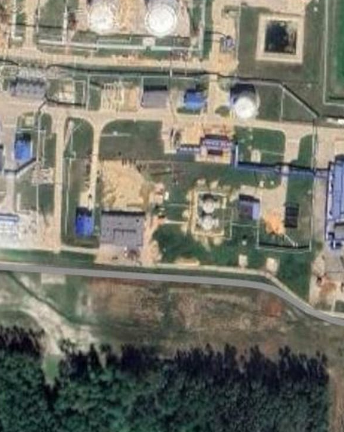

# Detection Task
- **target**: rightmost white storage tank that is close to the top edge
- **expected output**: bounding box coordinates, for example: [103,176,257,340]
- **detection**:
[145,0,180,37]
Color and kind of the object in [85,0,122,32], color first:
white storage tank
